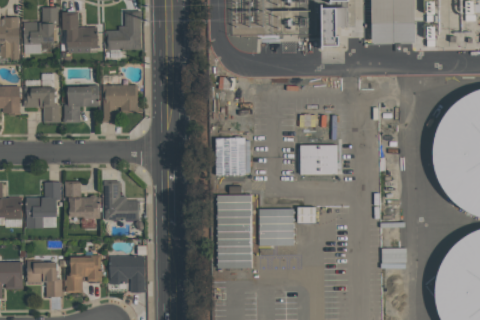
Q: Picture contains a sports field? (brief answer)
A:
No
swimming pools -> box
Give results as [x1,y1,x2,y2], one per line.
[122,66,143,84]
[0,67,20,84]
[112,242,134,254]
[112,224,131,236]
[68,68,92,80]
[48,240,63,249]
